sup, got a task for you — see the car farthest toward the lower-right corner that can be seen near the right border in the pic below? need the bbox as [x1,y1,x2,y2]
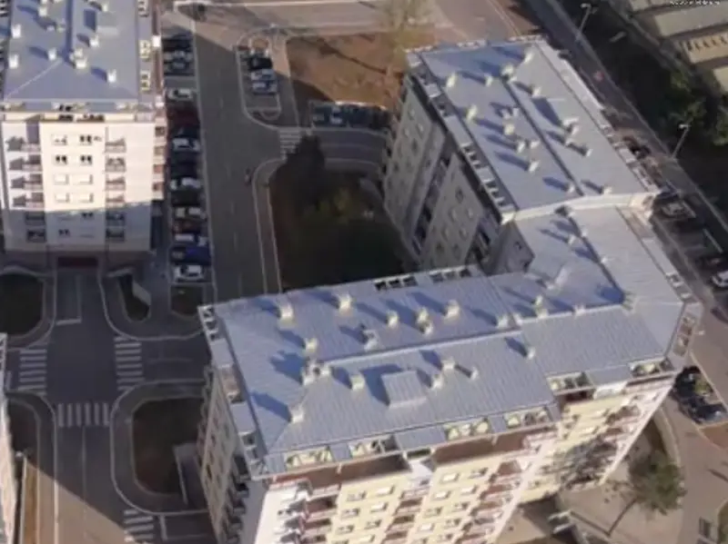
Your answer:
[690,401,728,426]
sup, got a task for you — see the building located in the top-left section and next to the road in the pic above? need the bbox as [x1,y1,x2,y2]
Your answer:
[0,0,160,266]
